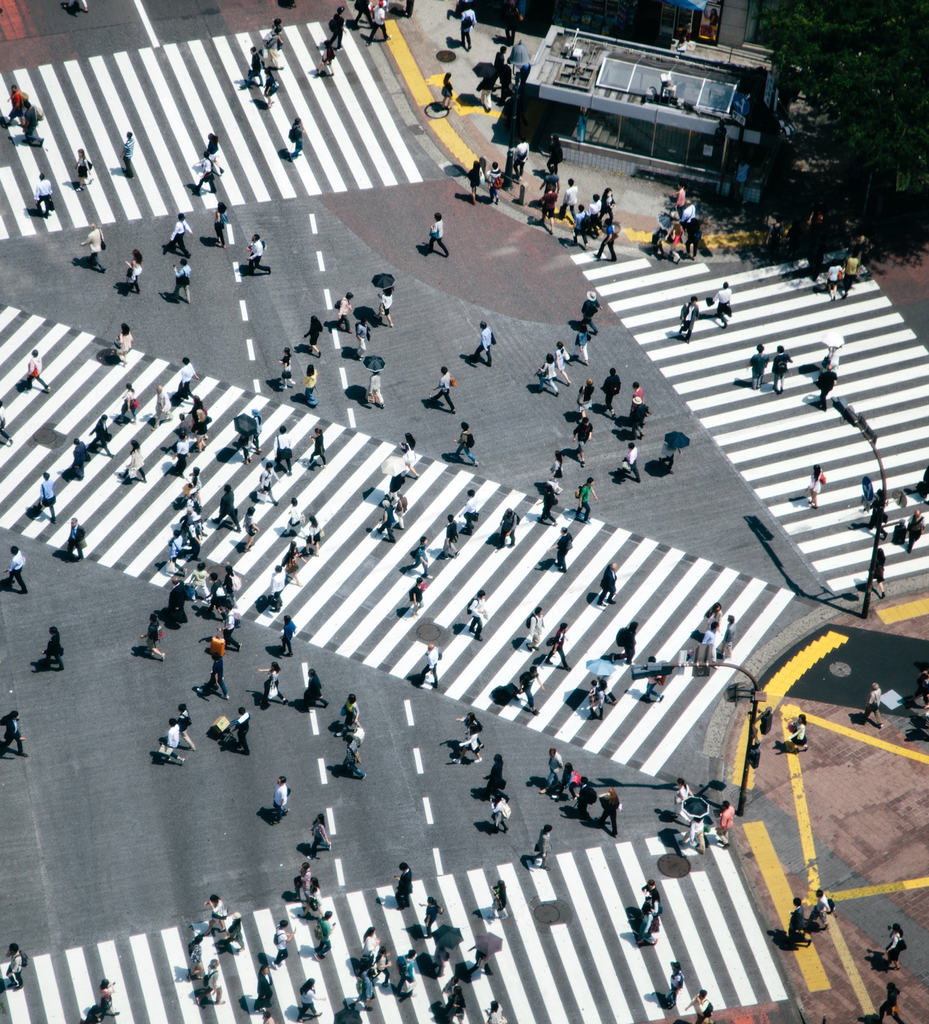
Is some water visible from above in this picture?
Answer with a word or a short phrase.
No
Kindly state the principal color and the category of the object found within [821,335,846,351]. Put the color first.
white umbrella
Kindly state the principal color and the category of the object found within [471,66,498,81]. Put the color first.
black umbrella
